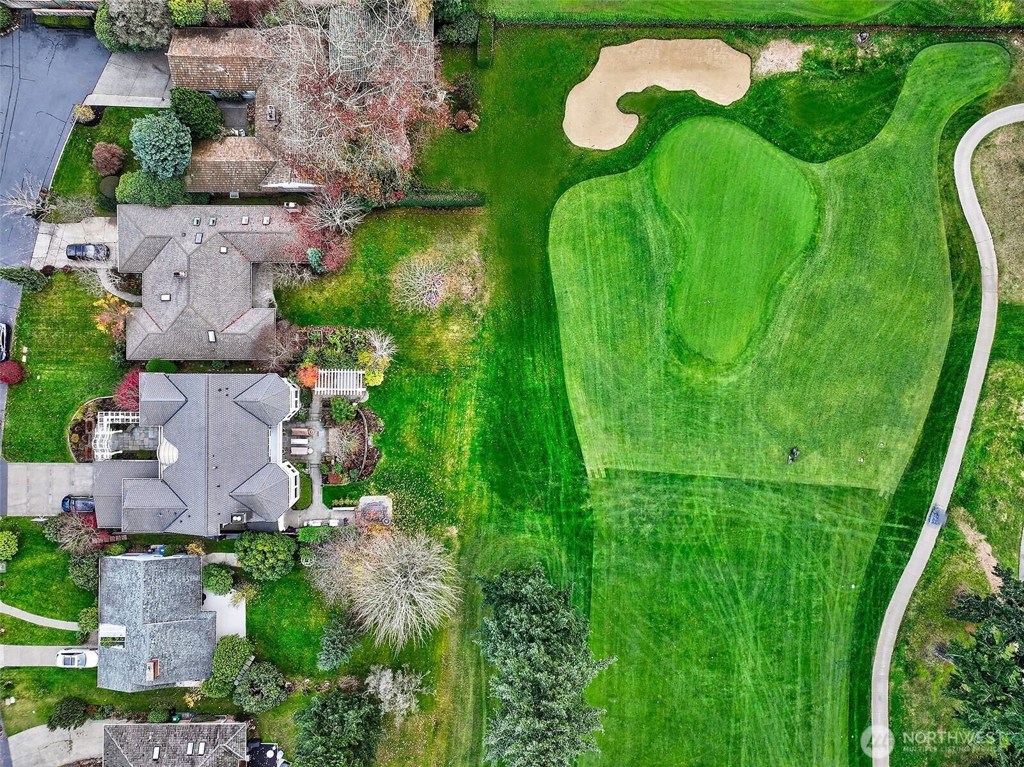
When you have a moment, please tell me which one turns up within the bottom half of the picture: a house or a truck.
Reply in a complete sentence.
Looking within the bottom half of the picture, you will find a house.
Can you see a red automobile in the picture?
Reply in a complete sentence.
No, the scene contains no red automobile.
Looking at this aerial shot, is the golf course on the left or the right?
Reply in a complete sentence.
It is on the right.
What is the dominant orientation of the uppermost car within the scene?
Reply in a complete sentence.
I'd say the uppermost car is aligned from side to side in the picture.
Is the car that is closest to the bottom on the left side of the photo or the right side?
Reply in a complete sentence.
You can find the car that is closest to the bottom on the left side of the picture.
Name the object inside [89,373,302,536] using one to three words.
house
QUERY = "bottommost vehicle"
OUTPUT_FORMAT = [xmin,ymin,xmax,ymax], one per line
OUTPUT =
[55,647,97,669]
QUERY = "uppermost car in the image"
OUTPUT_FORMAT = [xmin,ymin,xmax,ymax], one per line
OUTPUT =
[62,241,109,261]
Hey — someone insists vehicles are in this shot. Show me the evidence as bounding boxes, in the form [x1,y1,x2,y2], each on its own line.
[62,241,109,261]
[0,322,10,364]
[55,647,97,669]
[59,496,92,516]
[929,506,954,531]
